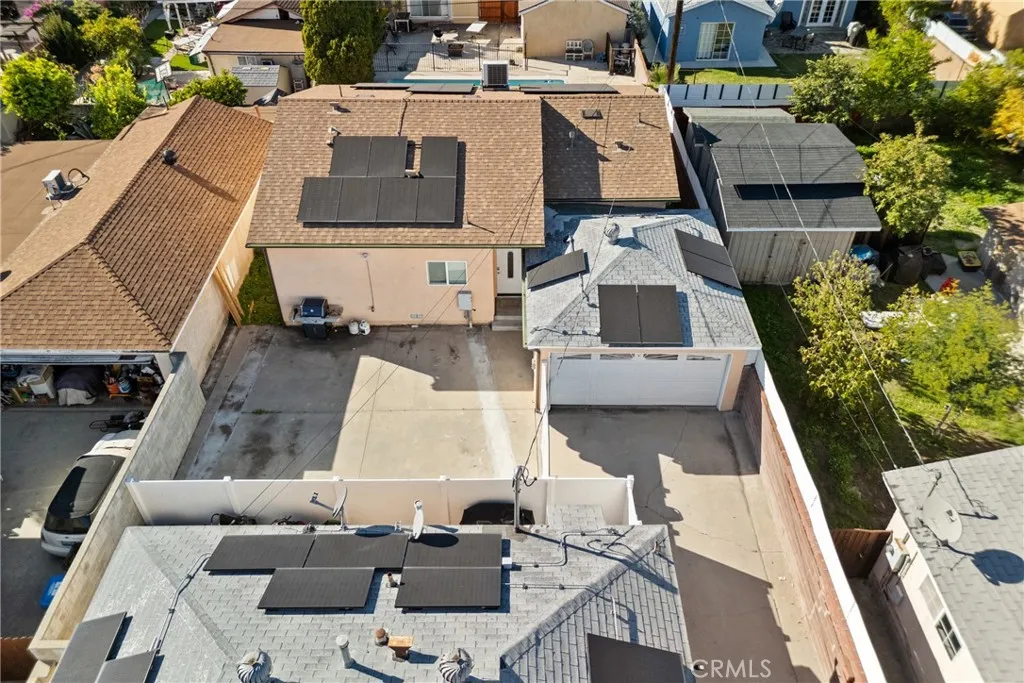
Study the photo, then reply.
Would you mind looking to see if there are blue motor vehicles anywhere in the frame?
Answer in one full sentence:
No, no blue motor vehicle can be seen from above.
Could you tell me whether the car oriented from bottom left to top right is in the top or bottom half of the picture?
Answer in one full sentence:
The car oriented from bottom left to top right is in the bottom half of the image.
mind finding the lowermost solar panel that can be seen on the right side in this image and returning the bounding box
[588,639,688,683]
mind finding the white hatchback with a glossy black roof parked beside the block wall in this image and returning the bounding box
[36,425,135,555]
